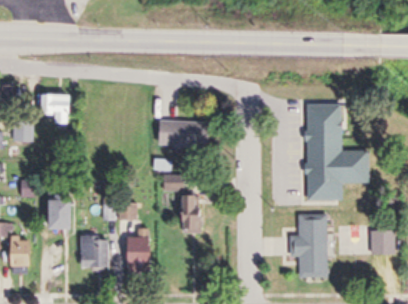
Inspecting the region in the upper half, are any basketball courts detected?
No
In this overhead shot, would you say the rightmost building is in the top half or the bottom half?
bottom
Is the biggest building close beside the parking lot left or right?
right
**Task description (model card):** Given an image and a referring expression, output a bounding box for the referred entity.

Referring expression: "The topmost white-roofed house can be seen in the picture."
[40,94,70,126]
